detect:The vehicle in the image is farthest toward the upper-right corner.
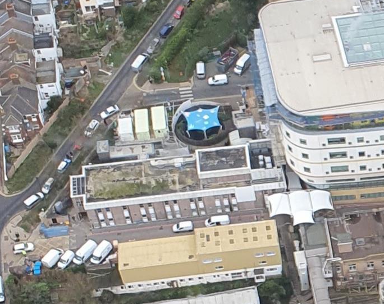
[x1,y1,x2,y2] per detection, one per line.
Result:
[235,52,250,72]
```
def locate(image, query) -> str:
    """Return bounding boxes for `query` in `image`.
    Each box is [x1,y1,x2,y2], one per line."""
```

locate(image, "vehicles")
[14,244,33,254]
[57,158,74,172]
[147,41,160,52]
[131,54,149,70]
[83,121,99,136]
[196,64,205,77]
[235,52,250,72]
[159,24,174,37]
[173,219,193,232]
[91,238,112,262]
[41,178,55,193]
[21,191,46,209]
[41,246,65,268]
[208,214,227,226]
[74,238,95,262]
[172,7,184,19]
[101,105,120,117]
[57,249,76,268]
[210,74,227,86]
